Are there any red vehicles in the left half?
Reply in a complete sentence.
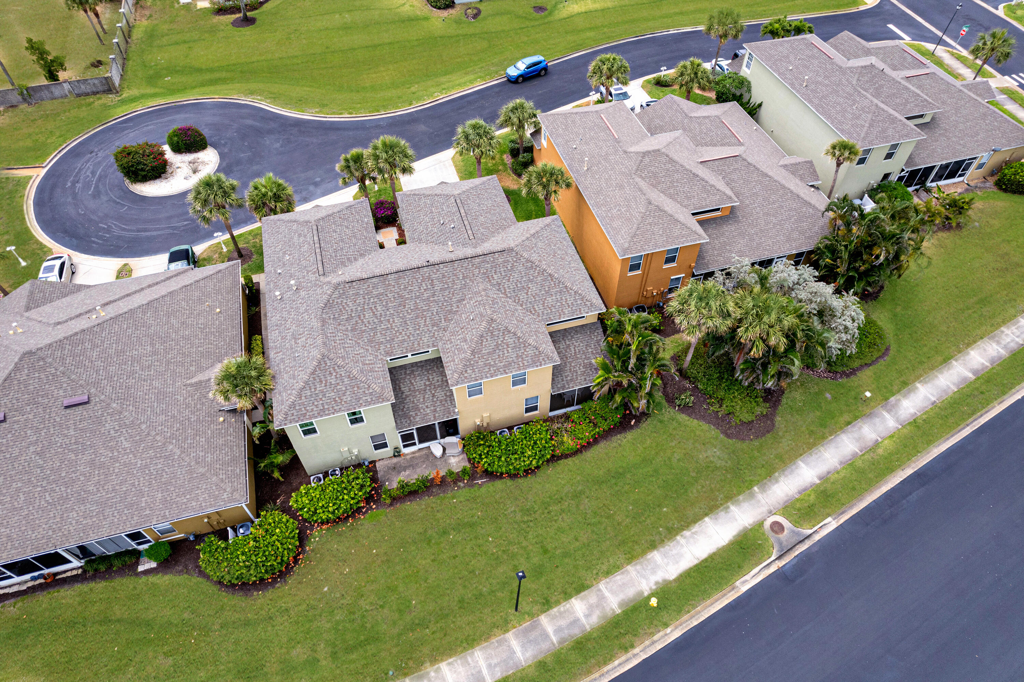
No, looking in the left half, there is no red vehicle.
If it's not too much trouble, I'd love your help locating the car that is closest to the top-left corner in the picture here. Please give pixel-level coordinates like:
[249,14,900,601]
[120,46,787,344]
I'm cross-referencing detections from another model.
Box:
[46,246,86,271]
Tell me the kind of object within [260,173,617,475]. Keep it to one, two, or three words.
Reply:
house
